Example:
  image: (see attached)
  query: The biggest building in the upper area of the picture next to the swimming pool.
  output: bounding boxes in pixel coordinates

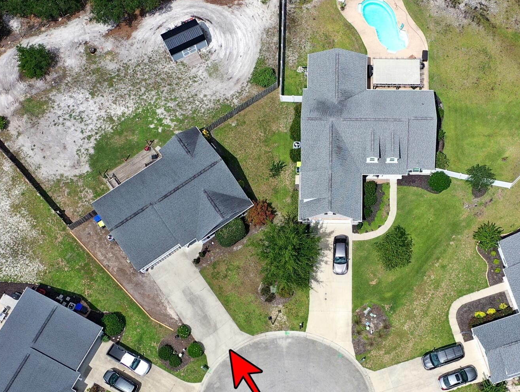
[298,47,437,223]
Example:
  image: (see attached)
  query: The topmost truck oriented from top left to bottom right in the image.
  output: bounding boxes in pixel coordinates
[103,340,154,377]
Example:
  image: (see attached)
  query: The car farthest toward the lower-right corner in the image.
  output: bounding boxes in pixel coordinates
[439,365,478,391]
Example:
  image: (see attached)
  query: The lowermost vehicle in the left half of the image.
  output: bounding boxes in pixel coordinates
[101,367,143,392]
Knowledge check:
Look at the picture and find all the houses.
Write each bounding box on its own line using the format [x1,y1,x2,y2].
[0,287,104,392]
[470,232,520,384]
[91,126,254,274]
[298,47,437,223]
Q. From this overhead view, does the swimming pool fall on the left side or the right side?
right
